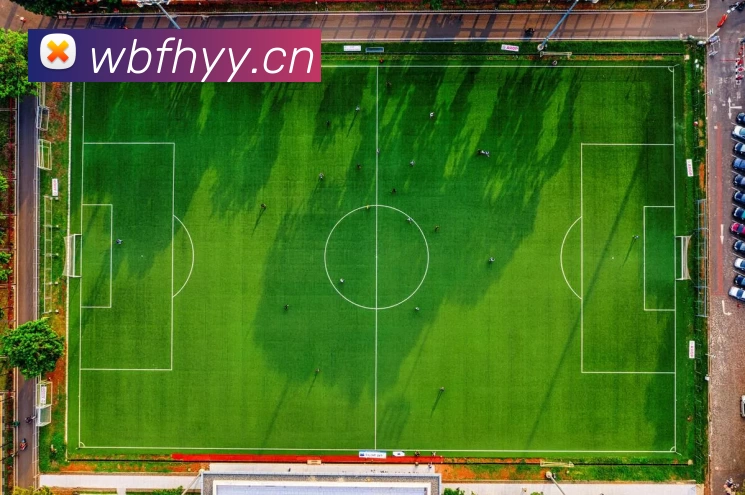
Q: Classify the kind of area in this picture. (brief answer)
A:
sports ground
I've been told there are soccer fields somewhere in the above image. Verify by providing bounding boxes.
[68,60,685,457]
